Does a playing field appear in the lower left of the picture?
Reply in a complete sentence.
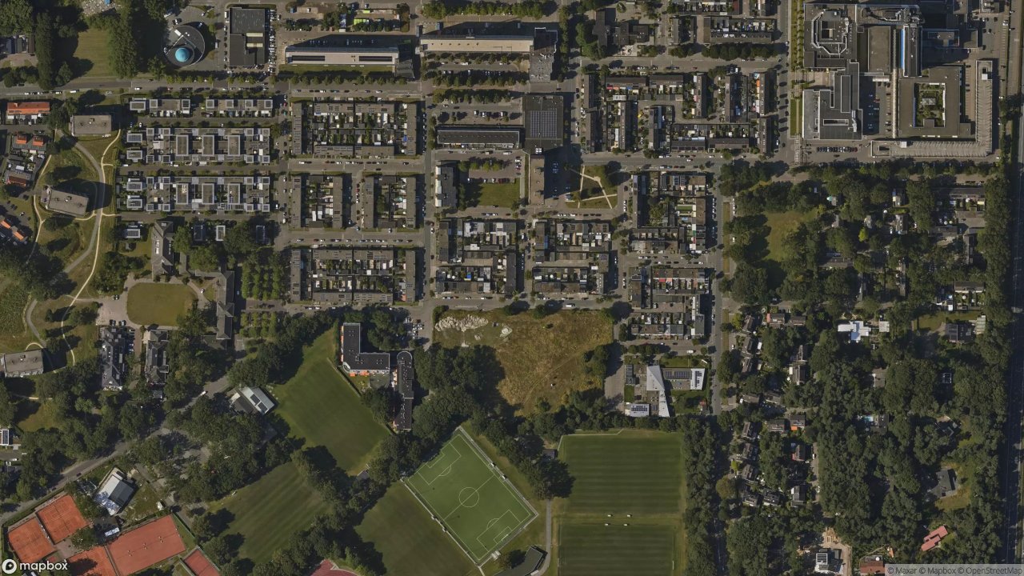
Yes, a playing field can be seen in the lower left of the picture.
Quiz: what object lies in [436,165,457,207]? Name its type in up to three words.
building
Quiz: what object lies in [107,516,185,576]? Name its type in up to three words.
tennis court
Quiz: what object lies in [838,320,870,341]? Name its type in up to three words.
house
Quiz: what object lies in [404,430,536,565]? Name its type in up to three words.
soccer field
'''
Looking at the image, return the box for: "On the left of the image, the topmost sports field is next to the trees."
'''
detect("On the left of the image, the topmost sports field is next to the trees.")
[280,331,389,474]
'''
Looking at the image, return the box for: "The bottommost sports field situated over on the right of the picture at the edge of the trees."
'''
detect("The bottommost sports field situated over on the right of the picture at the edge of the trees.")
[559,524,674,576]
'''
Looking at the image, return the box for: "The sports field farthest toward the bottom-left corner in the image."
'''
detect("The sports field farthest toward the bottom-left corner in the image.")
[215,464,326,560]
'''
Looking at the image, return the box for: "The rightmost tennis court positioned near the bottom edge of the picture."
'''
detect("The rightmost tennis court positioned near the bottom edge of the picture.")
[184,547,217,576]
